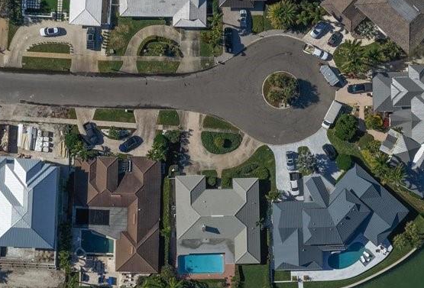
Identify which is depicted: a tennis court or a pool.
pool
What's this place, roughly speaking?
residential area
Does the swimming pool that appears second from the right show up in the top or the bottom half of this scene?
bottom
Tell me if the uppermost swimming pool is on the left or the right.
left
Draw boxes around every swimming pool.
[327,241,370,270]
[178,255,225,275]
[80,228,115,255]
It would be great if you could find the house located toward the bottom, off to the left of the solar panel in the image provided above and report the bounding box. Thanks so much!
[0,155,62,249]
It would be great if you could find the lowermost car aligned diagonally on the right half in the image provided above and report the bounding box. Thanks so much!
[321,142,337,161]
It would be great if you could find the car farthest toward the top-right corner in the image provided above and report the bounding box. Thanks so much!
[328,29,343,47]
